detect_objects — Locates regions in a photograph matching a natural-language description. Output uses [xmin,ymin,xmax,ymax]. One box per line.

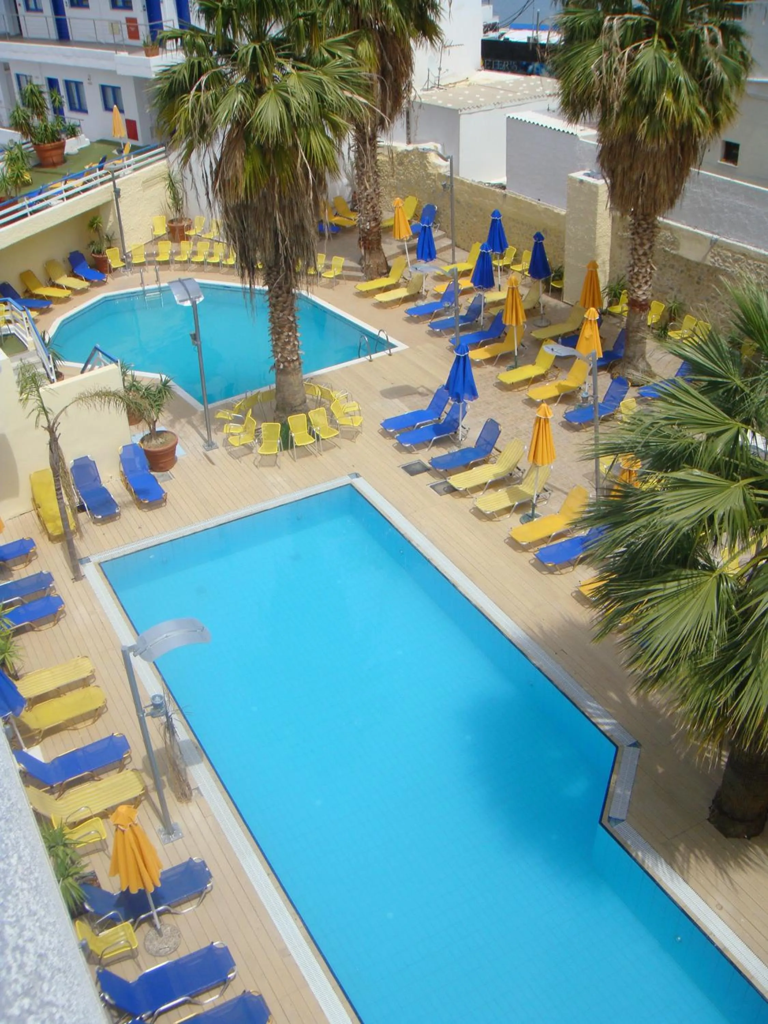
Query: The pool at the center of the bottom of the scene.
[102,487,768,1024]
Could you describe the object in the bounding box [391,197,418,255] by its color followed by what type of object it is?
orange umbrella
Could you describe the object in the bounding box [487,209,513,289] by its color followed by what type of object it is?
blue umbrella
